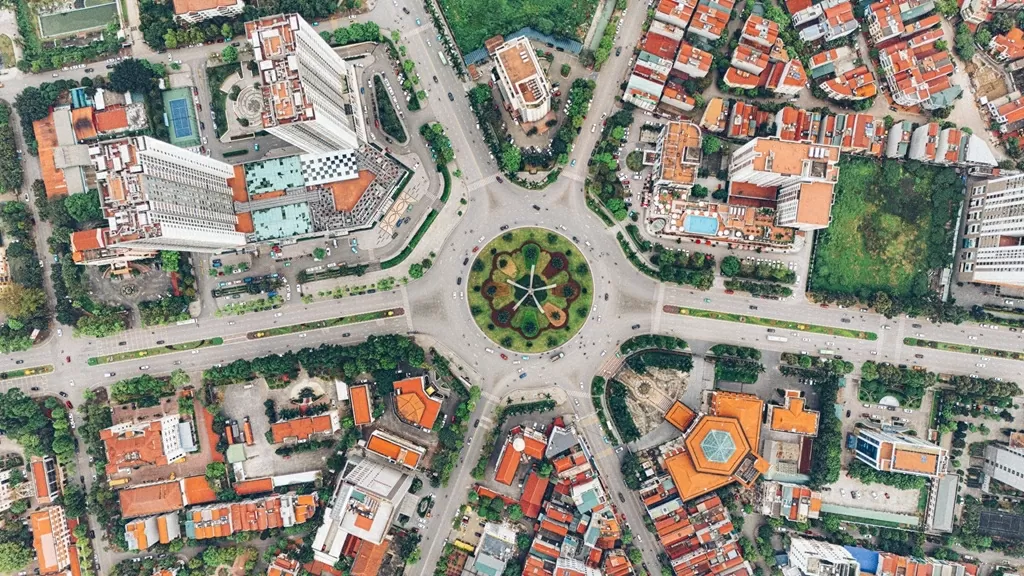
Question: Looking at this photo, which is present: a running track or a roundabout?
roundabout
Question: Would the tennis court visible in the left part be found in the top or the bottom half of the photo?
top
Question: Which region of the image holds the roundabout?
center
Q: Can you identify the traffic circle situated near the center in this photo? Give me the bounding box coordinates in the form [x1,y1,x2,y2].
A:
[467,226,594,354]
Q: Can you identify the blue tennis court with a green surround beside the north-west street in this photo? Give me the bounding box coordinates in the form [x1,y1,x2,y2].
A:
[160,86,201,147]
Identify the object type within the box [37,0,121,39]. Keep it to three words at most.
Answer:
soccer field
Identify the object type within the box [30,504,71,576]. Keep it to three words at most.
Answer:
building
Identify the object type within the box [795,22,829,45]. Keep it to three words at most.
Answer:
house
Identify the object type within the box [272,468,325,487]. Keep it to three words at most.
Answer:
shed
